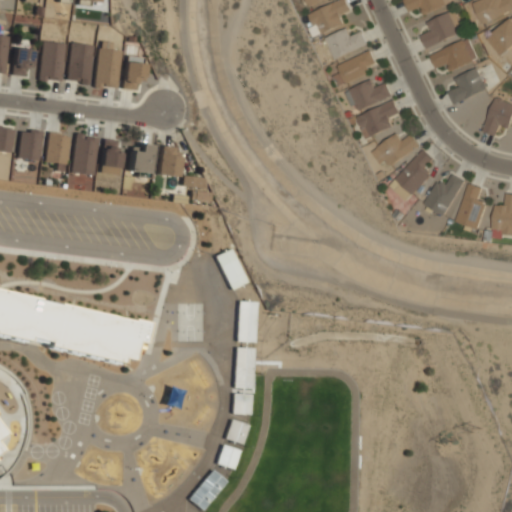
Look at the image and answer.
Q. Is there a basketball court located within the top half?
No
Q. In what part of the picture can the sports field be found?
bottom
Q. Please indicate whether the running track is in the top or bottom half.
bottom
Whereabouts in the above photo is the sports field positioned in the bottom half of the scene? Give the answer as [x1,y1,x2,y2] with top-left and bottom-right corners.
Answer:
[228,376,350,512]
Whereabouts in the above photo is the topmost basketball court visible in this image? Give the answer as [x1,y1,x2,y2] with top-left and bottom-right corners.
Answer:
[178,304,204,342]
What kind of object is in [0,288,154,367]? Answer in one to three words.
building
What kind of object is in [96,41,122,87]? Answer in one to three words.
house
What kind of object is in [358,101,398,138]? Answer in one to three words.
house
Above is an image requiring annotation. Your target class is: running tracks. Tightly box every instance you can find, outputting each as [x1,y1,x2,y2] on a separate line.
[219,368,359,512]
